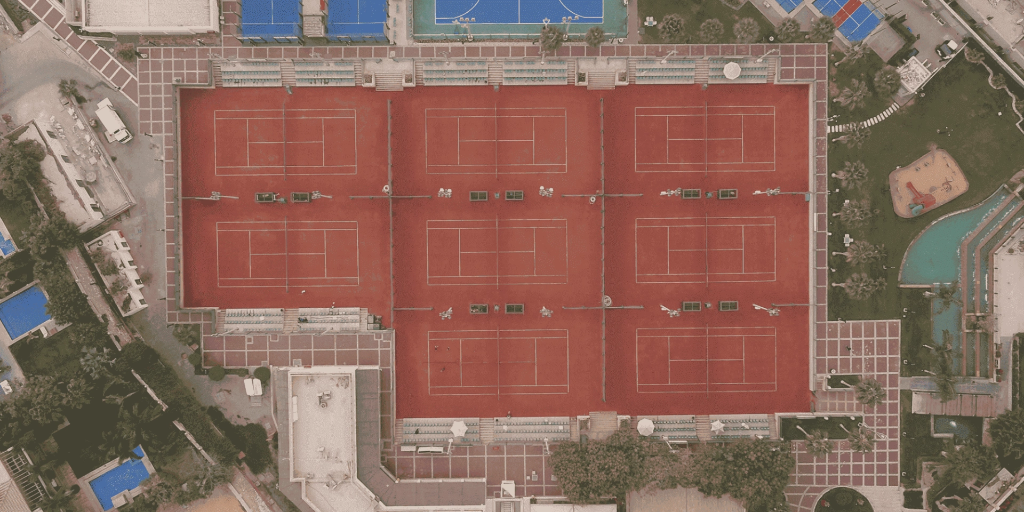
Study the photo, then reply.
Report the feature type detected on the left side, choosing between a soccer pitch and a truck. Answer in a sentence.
The feature located on the left side is a truck.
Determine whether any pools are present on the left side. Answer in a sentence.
Yes, a pool can be seen on the left side.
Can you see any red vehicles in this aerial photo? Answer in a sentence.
No, I find no red vehicle anywhere in the image.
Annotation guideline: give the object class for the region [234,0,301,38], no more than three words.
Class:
sports court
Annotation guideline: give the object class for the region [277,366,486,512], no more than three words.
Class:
building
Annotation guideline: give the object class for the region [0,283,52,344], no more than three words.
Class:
swimming pool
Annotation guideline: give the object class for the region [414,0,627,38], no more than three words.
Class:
basketball court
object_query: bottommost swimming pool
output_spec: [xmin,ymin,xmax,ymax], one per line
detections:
[84,441,153,512]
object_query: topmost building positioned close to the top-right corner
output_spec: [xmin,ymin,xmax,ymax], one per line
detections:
[864,22,903,62]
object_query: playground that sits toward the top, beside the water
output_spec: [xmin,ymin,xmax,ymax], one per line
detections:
[889,149,969,218]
